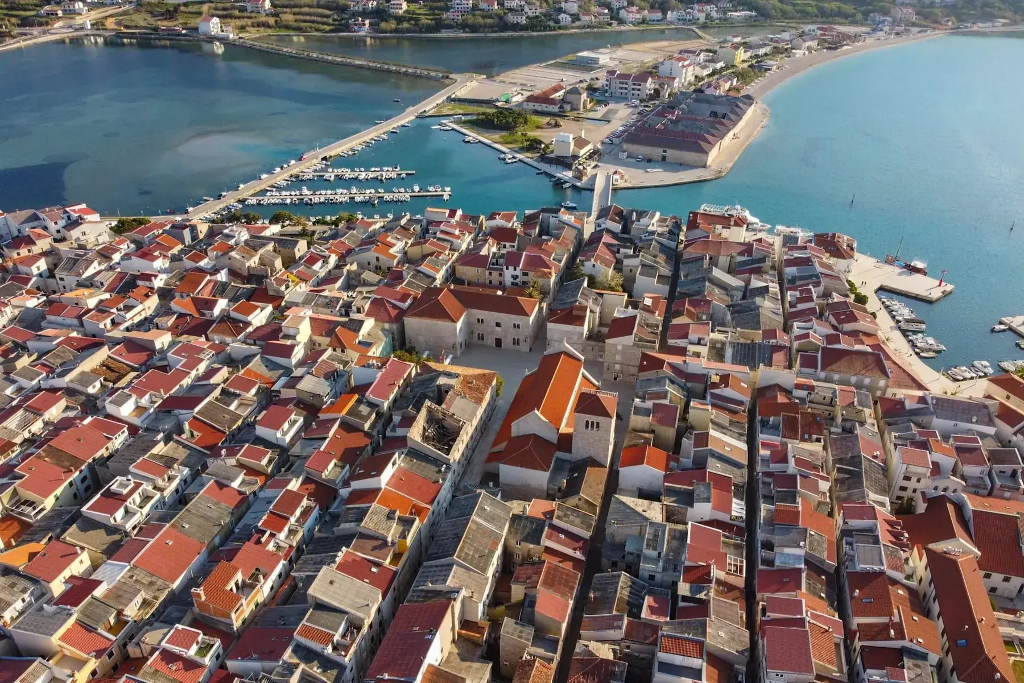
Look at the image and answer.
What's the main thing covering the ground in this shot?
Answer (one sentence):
What you mostly see from above here is buildings.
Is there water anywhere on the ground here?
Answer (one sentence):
Yes, there is water in the image.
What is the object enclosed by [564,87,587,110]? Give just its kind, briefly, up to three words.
house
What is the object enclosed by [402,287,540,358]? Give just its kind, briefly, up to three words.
building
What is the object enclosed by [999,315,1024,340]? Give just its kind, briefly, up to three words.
pier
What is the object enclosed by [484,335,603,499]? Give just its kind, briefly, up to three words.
building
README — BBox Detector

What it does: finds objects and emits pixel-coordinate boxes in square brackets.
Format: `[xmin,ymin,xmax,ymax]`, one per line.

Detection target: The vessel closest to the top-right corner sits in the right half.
[884,236,930,273]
